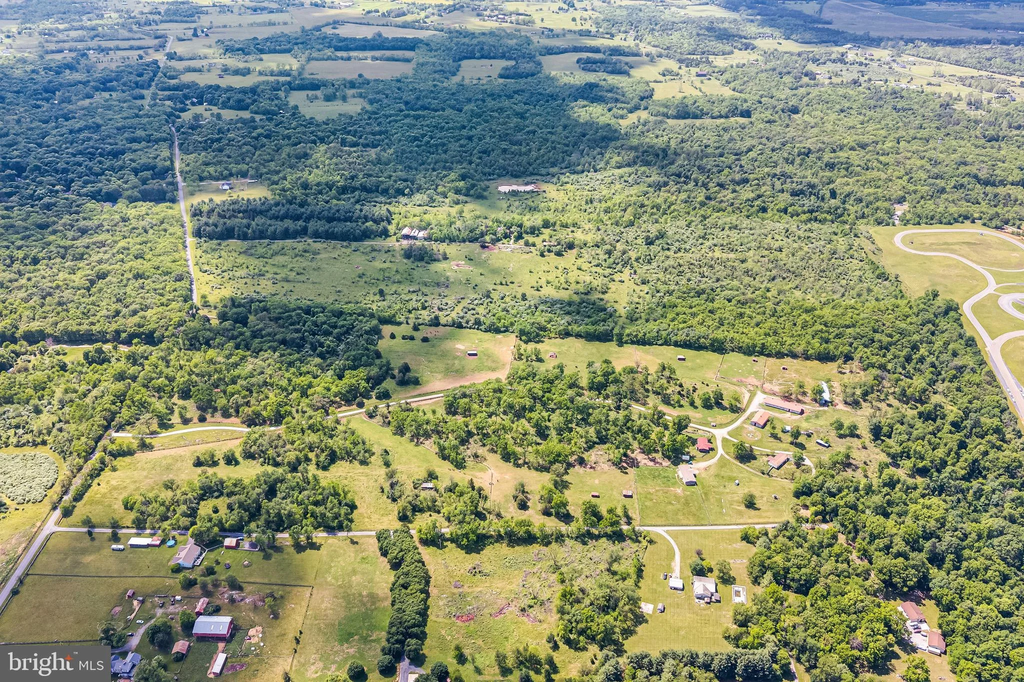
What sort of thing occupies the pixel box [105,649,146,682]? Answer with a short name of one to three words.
house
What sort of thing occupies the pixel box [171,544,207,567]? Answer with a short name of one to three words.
house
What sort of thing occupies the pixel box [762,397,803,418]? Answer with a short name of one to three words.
building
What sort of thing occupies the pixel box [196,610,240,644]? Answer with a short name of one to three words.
barn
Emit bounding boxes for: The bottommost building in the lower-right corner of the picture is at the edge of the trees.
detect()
[921,632,947,655]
